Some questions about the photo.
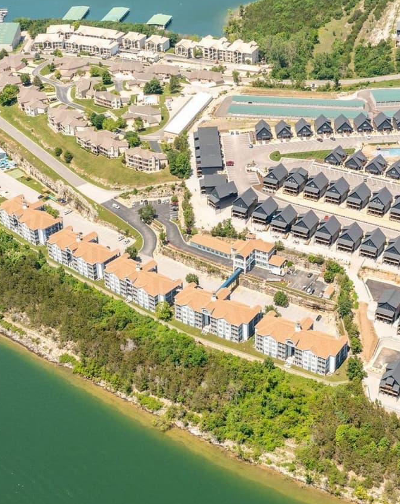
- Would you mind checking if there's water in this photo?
Yes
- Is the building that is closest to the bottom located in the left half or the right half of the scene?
right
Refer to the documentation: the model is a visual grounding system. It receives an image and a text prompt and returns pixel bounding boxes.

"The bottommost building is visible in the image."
[376,360,400,403]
